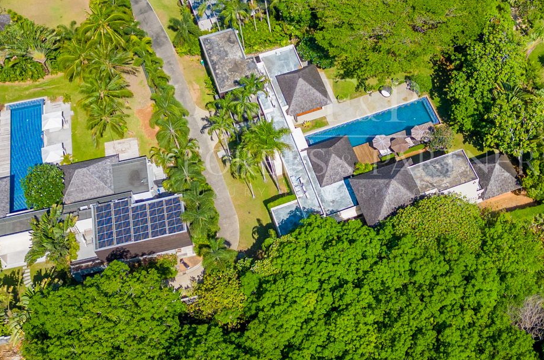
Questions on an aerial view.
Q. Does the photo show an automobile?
No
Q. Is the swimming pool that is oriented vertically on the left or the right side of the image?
left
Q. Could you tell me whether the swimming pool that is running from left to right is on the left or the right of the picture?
right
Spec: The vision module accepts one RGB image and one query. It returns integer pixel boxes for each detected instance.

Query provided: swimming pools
[7,96,50,214]
[303,94,449,155]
